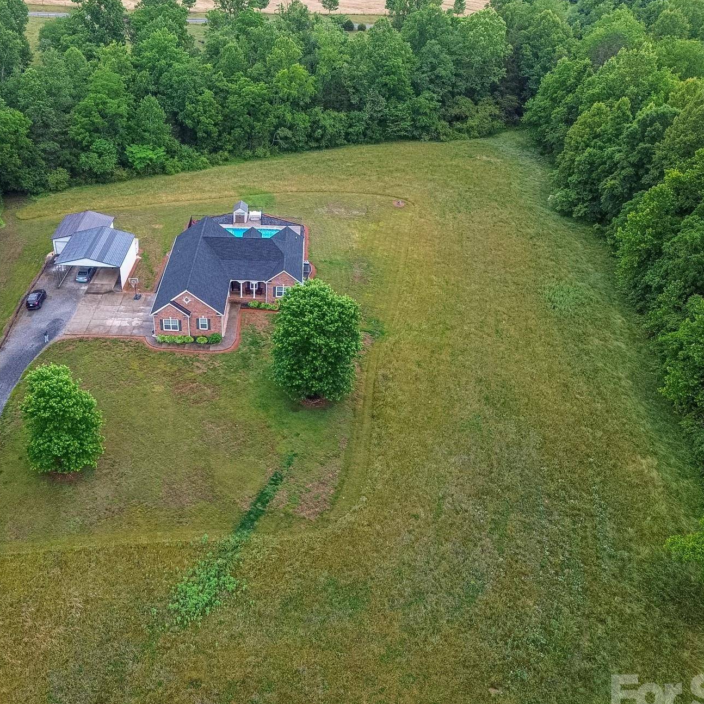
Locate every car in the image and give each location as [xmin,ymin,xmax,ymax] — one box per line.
[26,286,50,308]
[75,267,96,281]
